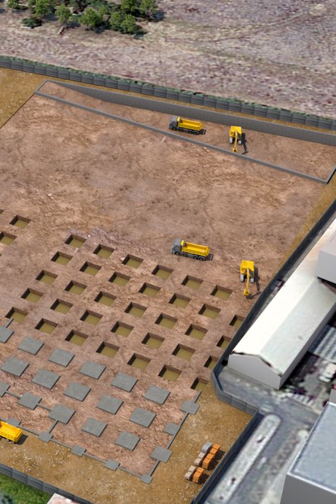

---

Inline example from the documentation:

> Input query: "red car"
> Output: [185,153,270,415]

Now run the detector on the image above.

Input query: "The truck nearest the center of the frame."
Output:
[173,238,214,262]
